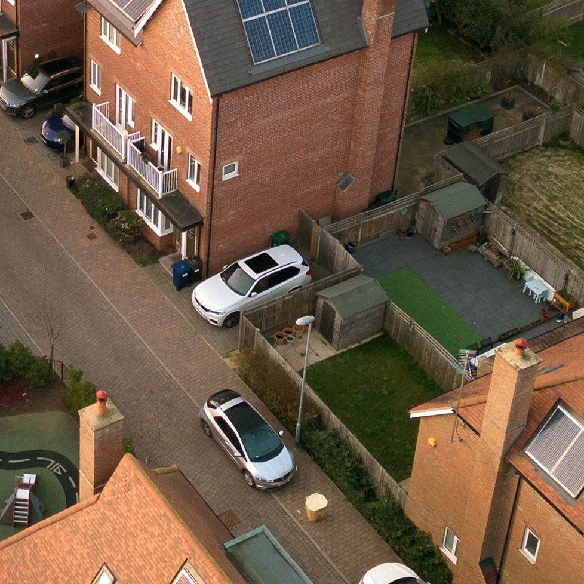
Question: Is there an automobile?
Yes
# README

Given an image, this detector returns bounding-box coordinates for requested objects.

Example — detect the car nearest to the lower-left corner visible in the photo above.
[201,388,299,490]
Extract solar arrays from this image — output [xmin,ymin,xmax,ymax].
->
[236,0,329,76]
[96,0,159,35]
